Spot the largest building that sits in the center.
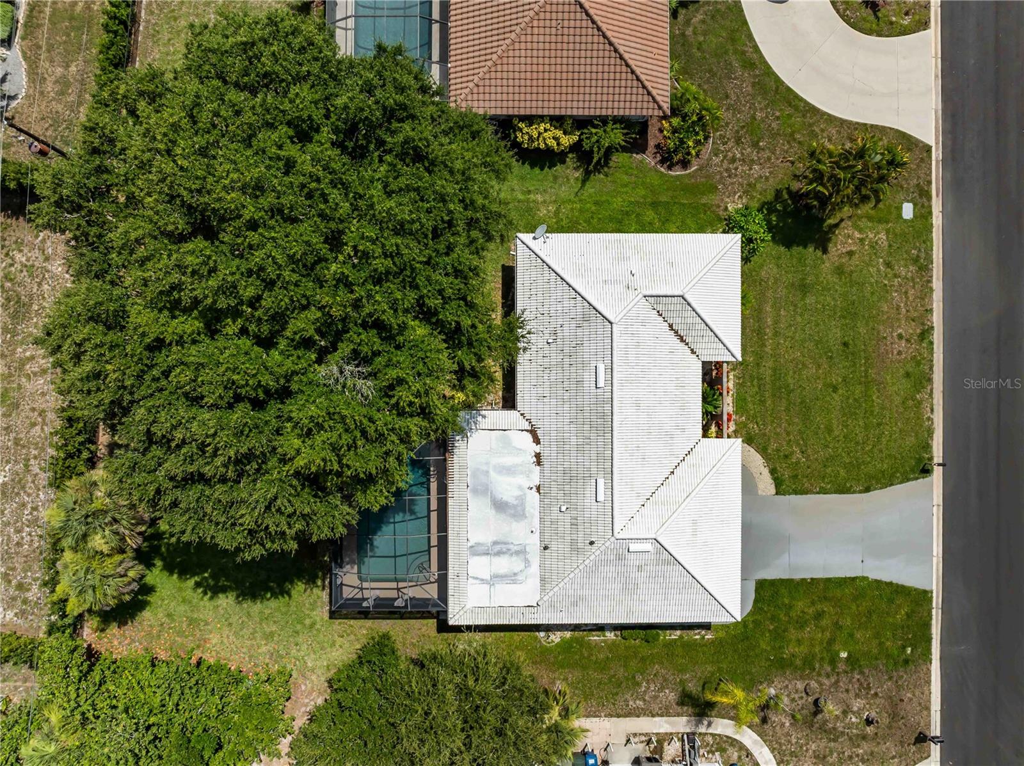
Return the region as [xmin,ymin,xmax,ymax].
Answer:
[447,232,743,625]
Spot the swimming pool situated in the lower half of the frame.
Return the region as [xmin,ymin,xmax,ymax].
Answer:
[354,420,434,586]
